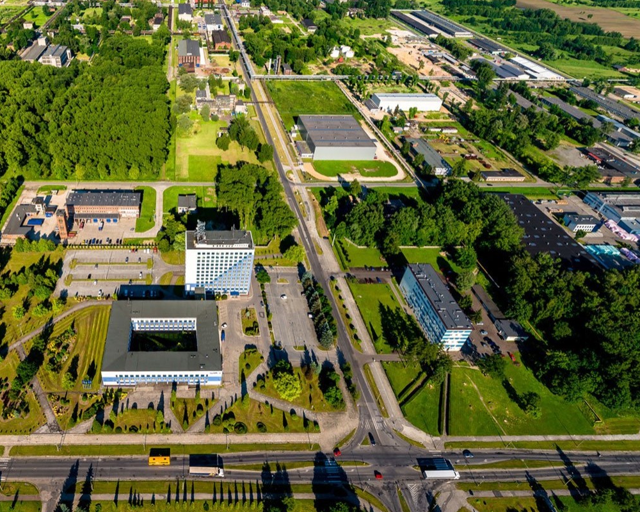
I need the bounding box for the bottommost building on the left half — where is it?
[99,297,224,396]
